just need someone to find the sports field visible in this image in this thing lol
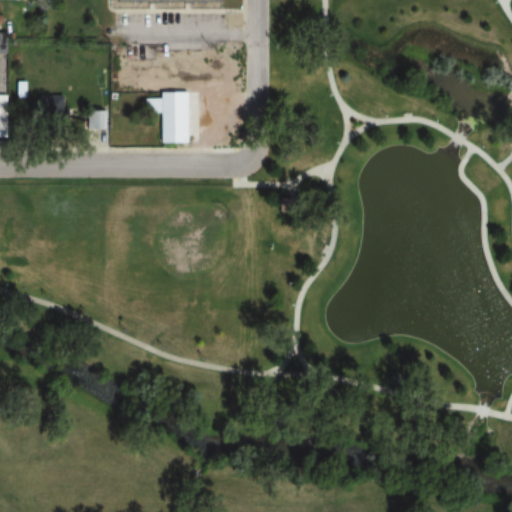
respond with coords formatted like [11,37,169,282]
[154,200,234,280]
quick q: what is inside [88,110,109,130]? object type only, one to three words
house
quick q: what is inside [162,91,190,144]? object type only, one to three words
building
